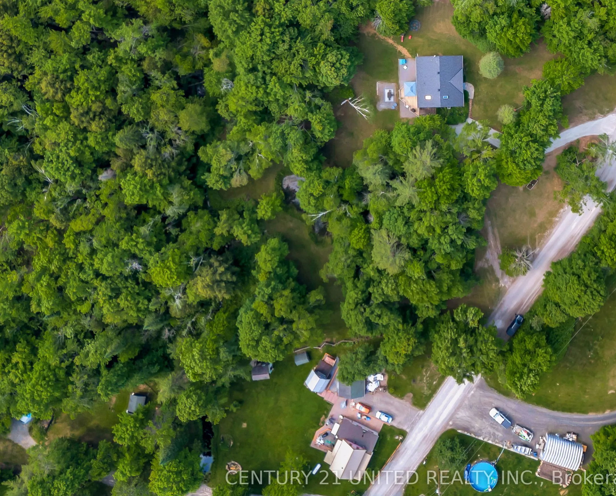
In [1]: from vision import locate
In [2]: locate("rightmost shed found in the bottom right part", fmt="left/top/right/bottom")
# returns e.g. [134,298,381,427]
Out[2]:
[540,434,583,471]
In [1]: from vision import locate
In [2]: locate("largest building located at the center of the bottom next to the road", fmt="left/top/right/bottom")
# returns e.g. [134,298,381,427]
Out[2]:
[324,414,381,482]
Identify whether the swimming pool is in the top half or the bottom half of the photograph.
bottom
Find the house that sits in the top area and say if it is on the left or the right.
right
